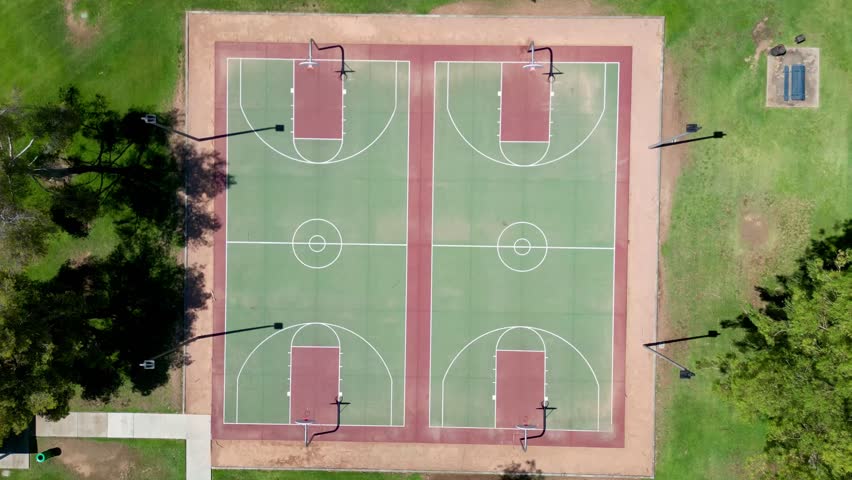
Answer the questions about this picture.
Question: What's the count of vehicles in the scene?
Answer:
zero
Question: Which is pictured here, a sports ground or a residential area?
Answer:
sports ground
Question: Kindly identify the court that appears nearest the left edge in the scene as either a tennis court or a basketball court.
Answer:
basketball court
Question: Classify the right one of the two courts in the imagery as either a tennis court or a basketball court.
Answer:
basketball court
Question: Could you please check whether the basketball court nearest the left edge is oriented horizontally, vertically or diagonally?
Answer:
vertically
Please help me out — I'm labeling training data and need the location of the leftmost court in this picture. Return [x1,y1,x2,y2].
[224,58,410,428]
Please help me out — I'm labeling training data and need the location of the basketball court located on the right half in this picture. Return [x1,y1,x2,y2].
[429,61,620,432]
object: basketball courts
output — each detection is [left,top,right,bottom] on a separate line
[224,58,410,428]
[429,61,620,432]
